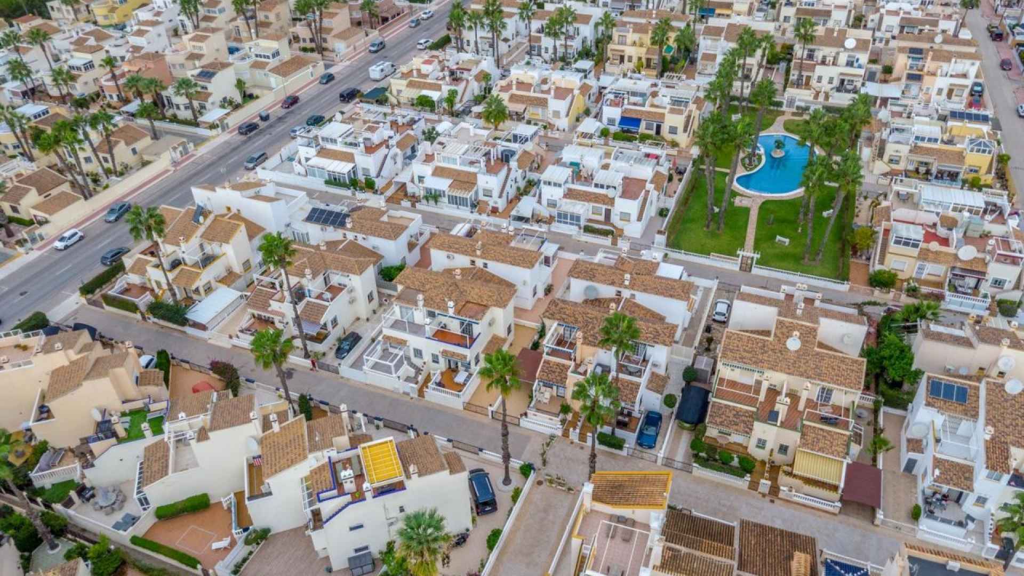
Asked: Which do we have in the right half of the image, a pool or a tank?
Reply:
pool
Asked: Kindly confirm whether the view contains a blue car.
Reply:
Yes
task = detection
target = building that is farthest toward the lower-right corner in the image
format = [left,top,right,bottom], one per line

[894,531,1003,576]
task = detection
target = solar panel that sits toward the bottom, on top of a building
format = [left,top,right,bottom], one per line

[933,379,968,407]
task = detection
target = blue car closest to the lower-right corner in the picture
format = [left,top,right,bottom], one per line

[635,411,663,446]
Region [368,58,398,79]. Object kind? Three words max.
camper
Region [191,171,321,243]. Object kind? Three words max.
house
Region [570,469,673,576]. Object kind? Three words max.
house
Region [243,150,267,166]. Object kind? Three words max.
car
